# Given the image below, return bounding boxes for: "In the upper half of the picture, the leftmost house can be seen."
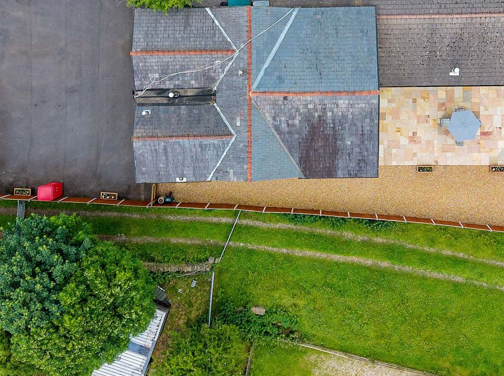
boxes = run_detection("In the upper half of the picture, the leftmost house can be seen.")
[130,5,380,184]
